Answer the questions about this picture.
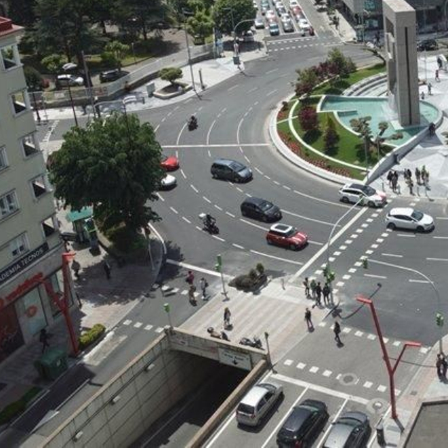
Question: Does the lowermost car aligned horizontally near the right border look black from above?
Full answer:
No, the color of the lowermost car aligned horizontally near the right border is white.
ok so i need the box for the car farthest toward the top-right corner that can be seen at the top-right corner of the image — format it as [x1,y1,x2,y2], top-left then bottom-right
[416,39,442,52]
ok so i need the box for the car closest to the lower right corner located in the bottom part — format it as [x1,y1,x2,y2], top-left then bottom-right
[319,400,375,448]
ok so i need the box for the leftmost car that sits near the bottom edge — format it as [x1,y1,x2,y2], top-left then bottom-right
[270,390,333,448]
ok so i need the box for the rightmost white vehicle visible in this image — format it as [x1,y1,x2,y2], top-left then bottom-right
[384,207,435,231]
